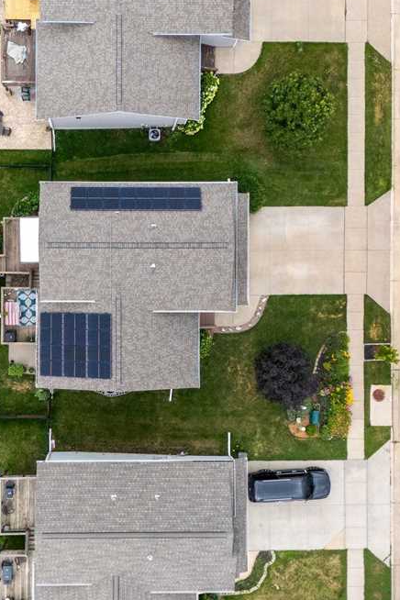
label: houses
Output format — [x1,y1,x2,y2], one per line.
[37,177,249,402]
[33,429,245,600]
[36,0,248,151]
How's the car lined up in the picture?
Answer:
from left to right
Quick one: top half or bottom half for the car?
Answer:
bottom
